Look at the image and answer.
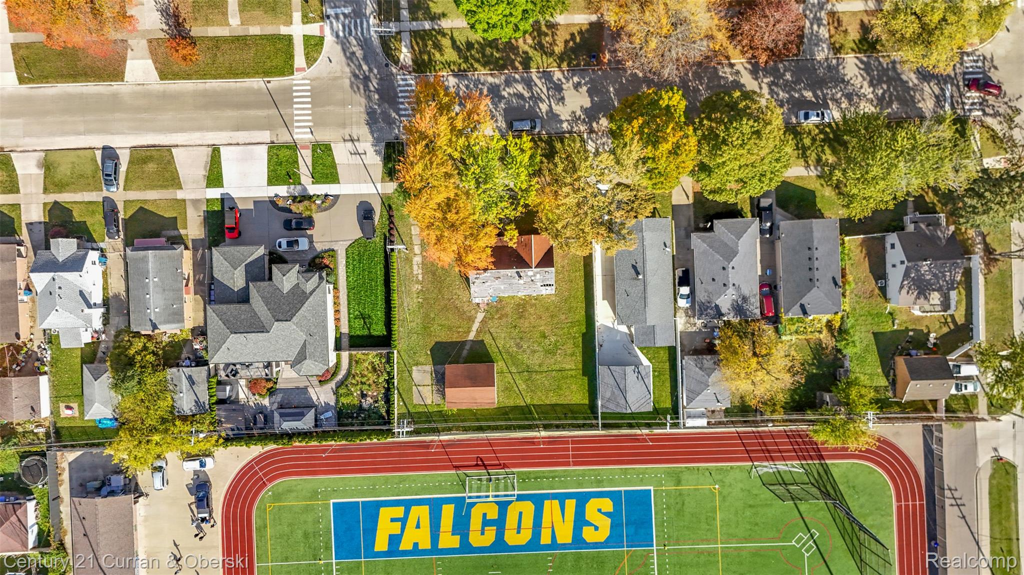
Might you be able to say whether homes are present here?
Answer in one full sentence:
Yes, a home appears in the view.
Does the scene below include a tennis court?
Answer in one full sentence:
No, I can't see a single tennis court in this photo.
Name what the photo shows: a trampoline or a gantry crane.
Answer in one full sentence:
Looking from above, you can make out a trampoline.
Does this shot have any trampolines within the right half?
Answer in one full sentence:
No, no trampoline can be made out within the right half.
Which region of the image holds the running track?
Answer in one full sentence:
Look in the bottom portion of the view to spot the running track.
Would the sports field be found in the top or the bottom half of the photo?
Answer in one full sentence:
You can find the sports field in the bottom half.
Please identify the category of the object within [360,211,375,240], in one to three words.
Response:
car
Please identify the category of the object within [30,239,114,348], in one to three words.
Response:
house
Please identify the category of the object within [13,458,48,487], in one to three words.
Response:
trampoline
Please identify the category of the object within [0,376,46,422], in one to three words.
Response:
building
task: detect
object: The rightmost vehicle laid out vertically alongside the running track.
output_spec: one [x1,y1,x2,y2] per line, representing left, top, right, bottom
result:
[194,479,213,520]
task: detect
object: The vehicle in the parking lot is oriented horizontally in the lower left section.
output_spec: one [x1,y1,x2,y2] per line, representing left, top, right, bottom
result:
[182,455,215,471]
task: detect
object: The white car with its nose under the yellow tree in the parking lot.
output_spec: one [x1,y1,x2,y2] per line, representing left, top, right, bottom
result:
[151,458,170,492]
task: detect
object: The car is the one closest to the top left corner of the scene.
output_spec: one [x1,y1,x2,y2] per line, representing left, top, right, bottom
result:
[102,158,120,190]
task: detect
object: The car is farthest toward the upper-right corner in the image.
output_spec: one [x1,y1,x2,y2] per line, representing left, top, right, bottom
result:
[967,78,1004,97]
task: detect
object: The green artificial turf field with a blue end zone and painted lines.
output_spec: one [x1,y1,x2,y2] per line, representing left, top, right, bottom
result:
[255,463,898,575]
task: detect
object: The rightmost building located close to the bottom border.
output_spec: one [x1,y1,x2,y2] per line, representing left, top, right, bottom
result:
[72,491,146,575]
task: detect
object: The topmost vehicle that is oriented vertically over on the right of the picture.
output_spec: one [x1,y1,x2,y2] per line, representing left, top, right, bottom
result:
[759,199,776,239]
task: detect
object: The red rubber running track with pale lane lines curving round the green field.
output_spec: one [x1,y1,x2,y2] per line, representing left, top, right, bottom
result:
[219,425,930,575]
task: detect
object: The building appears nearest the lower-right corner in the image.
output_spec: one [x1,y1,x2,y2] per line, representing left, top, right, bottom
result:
[895,357,954,402]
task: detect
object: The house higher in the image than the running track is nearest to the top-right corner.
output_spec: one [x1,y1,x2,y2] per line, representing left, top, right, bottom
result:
[887,214,965,314]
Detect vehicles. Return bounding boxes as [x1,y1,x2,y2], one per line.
[950,380,981,395]
[276,236,309,251]
[223,209,241,239]
[967,78,1004,97]
[102,158,120,190]
[102,206,120,238]
[194,479,213,520]
[282,216,315,231]
[151,458,170,492]
[676,268,693,308]
[182,455,215,471]
[760,284,777,321]
[360,211,375,240]
[759,199,776,239]
[509,116,541,133]
[949,362,984,378]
